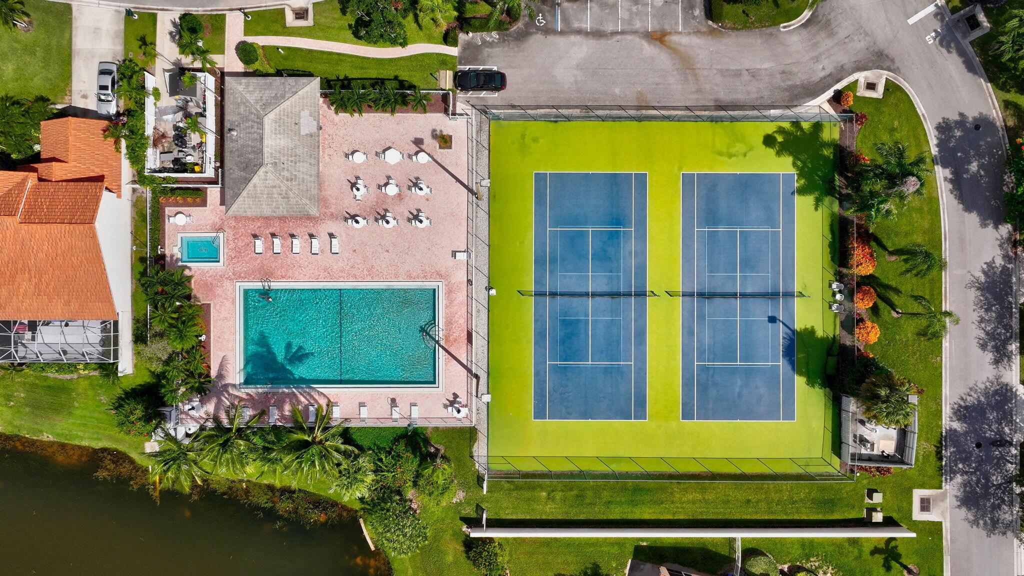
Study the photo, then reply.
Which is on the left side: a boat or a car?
car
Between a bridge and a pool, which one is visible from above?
pool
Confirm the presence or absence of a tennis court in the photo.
Yes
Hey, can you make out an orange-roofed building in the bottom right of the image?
No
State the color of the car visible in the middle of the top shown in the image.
black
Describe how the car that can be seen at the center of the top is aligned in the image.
from left to right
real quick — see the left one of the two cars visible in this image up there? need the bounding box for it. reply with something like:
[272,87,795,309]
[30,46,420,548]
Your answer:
[91,62,118,117]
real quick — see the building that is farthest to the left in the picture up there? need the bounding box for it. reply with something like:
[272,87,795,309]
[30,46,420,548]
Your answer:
[0,116,133,376]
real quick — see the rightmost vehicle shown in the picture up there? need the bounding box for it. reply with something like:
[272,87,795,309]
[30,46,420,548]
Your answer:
[455,67,507,92]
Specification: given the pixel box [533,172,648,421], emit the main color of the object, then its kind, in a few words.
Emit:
blue tennis court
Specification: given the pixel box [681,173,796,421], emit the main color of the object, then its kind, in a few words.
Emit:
blue tennis court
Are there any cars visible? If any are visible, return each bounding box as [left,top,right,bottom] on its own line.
[91,62,118,117]
[455,67,507,92]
